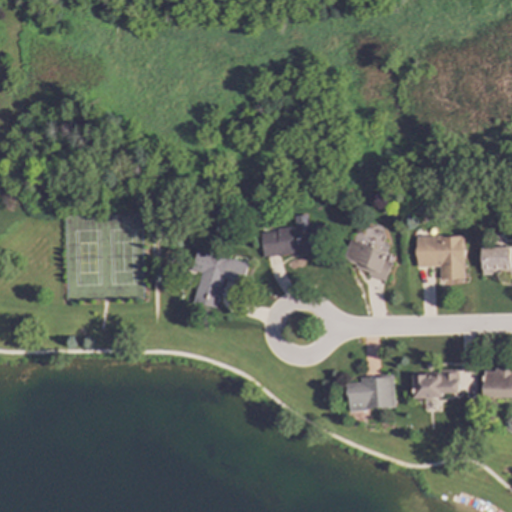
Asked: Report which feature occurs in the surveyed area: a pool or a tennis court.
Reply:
tennis court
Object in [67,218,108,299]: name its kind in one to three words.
tennis court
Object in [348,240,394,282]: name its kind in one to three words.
house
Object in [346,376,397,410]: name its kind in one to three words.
house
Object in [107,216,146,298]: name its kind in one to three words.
tennis court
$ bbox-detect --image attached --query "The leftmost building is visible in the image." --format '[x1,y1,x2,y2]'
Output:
[194,253,248,311]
